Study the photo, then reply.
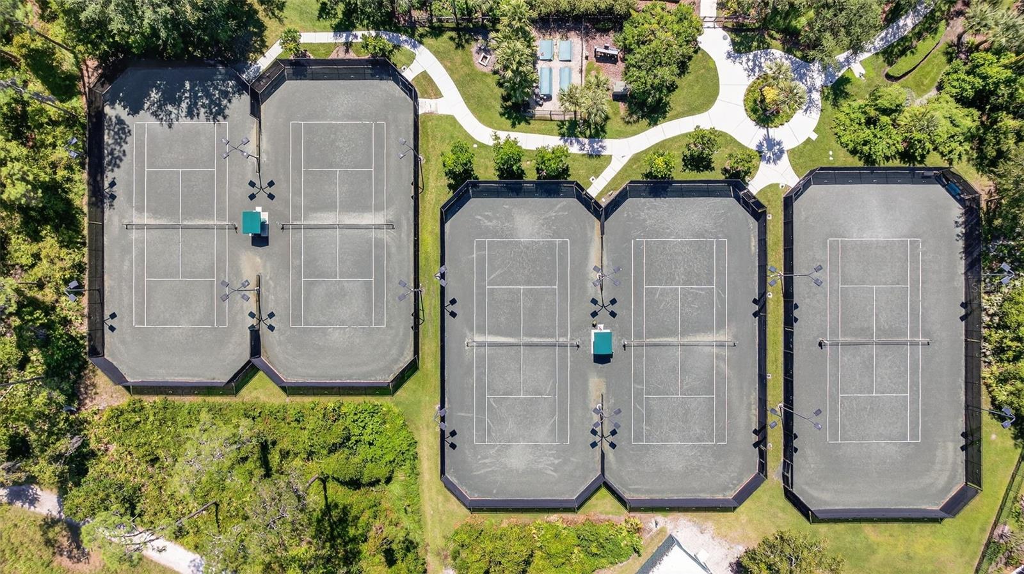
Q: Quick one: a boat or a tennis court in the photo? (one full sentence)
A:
There is a tennis court in the scene.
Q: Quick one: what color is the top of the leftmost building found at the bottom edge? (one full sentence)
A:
From above, the roof of the leftmost building found at the bottom edge looks white.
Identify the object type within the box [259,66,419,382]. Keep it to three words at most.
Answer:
tennis court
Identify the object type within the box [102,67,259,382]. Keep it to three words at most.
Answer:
tennis court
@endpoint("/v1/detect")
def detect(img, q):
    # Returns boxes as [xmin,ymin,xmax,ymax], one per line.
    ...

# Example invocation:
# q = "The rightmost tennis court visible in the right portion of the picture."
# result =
[784,171,965,510]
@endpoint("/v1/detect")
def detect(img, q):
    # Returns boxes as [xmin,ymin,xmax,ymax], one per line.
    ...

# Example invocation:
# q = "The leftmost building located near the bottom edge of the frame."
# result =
[628,533,713,574]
